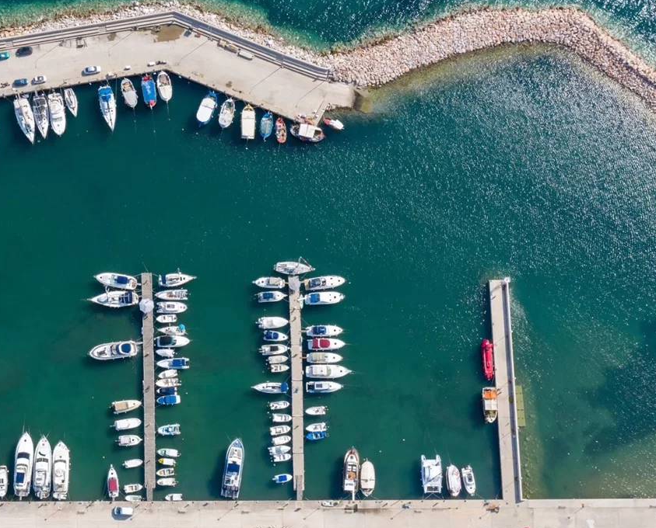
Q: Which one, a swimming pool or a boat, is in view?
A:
boat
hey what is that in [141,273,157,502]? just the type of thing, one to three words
pier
